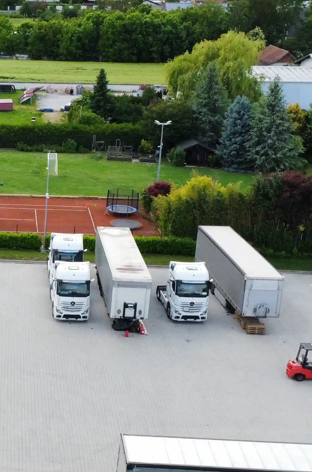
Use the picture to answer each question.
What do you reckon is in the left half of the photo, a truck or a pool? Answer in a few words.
truck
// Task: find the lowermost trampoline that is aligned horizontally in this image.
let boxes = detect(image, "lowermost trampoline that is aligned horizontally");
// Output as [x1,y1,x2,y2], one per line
[110,215,143,232]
